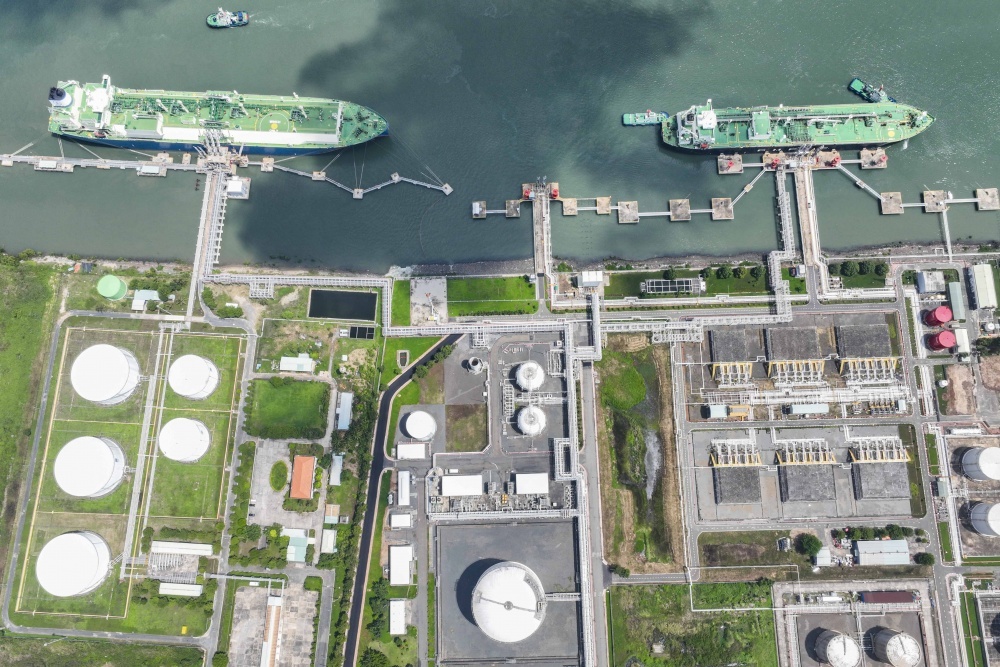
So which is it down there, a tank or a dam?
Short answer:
tank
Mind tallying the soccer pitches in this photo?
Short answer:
one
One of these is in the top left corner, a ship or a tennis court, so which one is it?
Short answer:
ship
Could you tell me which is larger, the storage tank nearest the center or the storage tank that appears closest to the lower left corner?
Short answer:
the storage tank that appears closest to the lower left corner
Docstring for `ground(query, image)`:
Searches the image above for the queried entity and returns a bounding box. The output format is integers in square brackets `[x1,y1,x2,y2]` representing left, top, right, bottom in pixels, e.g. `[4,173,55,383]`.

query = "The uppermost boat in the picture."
[209,11,248,27]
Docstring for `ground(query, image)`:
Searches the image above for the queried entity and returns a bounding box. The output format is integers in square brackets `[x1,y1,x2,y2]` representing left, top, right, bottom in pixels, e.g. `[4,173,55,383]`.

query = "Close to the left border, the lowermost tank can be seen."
[34,529,111,599]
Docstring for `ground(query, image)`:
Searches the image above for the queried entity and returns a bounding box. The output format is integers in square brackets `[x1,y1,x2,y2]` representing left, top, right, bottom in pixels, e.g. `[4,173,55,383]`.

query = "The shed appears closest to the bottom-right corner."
[860,590,915,604]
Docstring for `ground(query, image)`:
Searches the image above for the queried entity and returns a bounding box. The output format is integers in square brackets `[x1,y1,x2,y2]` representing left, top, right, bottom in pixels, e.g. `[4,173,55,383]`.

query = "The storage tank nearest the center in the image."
[516,361,546,394]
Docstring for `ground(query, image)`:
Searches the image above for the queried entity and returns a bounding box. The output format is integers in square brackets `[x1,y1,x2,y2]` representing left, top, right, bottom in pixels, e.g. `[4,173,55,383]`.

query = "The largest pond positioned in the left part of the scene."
[307,288,378,321]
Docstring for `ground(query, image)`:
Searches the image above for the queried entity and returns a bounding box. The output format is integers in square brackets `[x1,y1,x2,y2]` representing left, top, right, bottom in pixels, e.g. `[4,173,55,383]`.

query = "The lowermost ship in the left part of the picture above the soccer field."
[47,74,389,158]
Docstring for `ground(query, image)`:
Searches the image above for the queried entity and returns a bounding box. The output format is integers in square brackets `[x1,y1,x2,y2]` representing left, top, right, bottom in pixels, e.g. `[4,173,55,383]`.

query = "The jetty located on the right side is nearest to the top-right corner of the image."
[792,169,823,267]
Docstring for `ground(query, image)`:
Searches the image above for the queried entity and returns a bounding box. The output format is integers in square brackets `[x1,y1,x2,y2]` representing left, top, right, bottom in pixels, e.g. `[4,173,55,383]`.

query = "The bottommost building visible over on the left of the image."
[389,600,407,635]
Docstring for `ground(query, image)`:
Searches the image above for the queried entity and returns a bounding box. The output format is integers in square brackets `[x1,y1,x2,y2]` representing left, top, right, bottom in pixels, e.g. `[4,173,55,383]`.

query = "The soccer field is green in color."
[246,380,329,436]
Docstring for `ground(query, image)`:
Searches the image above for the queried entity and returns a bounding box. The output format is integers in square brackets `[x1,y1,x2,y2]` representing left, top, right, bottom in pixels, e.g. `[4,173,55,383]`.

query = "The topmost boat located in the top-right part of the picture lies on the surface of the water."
[851,78,894,104]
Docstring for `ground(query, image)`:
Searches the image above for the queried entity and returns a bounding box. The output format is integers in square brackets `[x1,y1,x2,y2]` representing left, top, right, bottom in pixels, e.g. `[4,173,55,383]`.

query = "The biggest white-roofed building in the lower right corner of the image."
[852,539,911,564]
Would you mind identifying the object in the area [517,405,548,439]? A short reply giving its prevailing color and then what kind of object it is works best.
white storage tank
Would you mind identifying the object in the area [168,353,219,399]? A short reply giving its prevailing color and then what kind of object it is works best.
white storage tank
